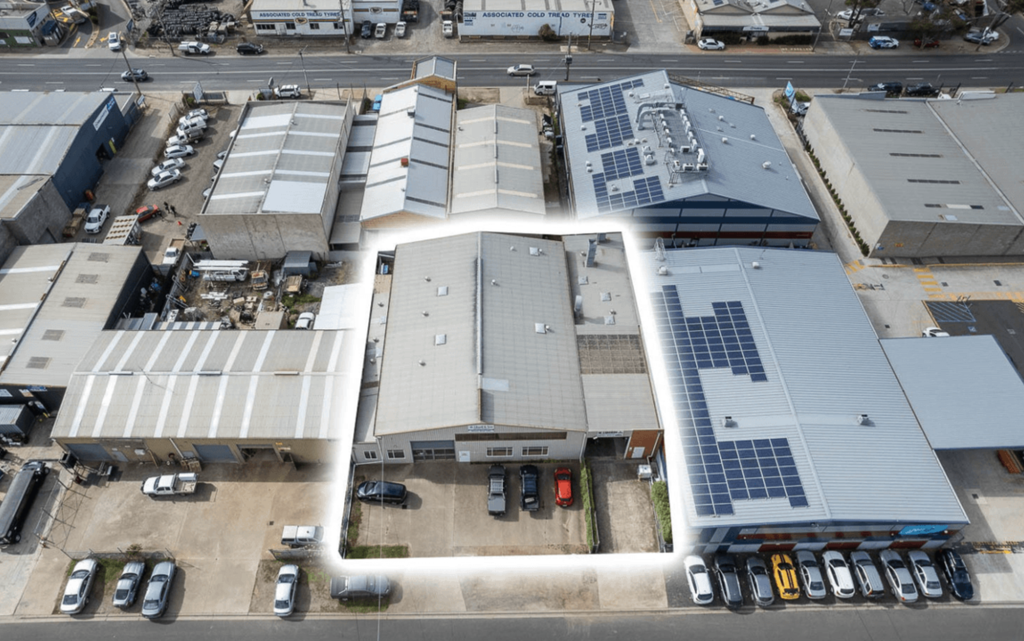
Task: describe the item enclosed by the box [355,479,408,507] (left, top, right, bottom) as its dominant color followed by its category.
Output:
black vehicle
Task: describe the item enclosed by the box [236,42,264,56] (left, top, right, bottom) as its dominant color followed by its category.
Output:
black car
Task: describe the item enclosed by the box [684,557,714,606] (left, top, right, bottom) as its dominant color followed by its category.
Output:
white car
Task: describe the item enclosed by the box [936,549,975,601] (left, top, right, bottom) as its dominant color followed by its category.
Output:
black car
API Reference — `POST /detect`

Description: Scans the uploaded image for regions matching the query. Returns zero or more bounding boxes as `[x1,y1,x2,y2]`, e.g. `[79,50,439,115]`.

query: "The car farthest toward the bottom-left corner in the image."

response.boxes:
[59,560,100,615]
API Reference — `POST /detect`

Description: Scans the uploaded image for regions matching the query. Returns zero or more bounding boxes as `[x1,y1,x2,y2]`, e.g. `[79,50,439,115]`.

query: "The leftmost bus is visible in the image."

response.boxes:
[0,458,56,555]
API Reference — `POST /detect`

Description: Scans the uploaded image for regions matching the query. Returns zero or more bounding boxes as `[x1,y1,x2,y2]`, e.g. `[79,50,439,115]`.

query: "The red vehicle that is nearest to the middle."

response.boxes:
[553,468,575,508]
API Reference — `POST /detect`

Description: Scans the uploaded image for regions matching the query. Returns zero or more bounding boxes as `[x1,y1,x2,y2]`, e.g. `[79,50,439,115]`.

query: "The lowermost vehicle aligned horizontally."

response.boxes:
[330,573,392,602]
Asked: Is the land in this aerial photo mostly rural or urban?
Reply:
urban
